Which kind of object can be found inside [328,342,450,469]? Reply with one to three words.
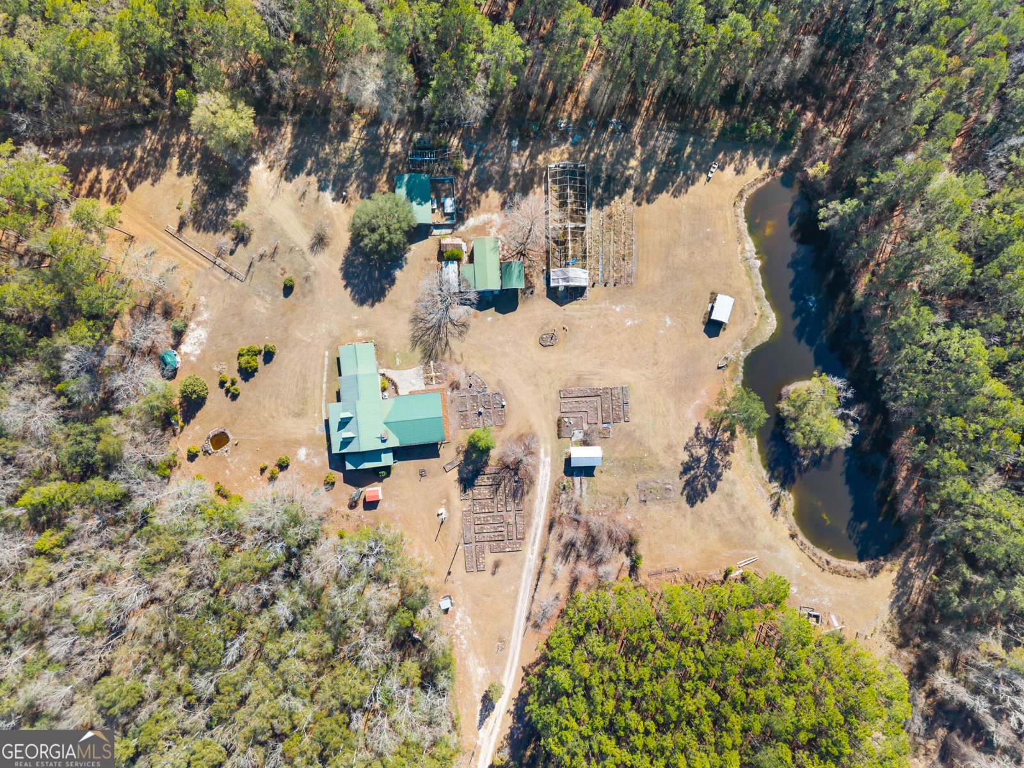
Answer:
house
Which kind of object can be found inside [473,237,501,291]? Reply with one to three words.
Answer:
shed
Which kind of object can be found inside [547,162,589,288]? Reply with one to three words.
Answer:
greenhouse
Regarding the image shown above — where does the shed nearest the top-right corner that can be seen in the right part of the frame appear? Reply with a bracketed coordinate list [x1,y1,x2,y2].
[711,293,739,324]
